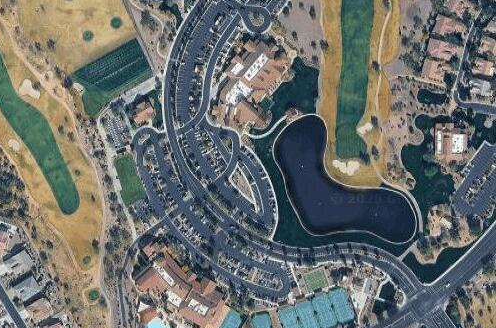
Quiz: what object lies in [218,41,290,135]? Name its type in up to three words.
building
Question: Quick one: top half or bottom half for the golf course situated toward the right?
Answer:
top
